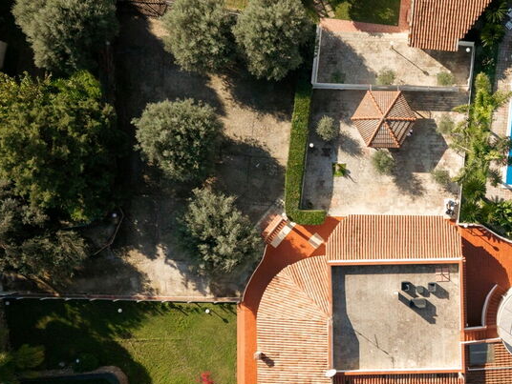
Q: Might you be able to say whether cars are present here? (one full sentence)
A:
No, there isn't any car down there.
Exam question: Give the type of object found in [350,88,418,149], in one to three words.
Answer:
gazebo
